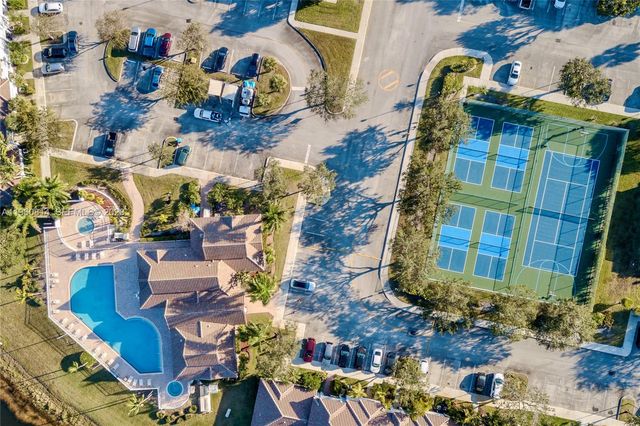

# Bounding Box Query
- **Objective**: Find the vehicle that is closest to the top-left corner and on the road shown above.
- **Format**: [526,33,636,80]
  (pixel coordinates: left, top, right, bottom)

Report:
[39,1,64,14]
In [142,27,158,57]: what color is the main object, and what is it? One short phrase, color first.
blue vehicle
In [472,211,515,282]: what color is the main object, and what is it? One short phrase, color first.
blue sports court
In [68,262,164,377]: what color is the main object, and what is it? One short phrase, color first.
blue swimming pool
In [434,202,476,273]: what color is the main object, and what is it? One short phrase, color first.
blue sports court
